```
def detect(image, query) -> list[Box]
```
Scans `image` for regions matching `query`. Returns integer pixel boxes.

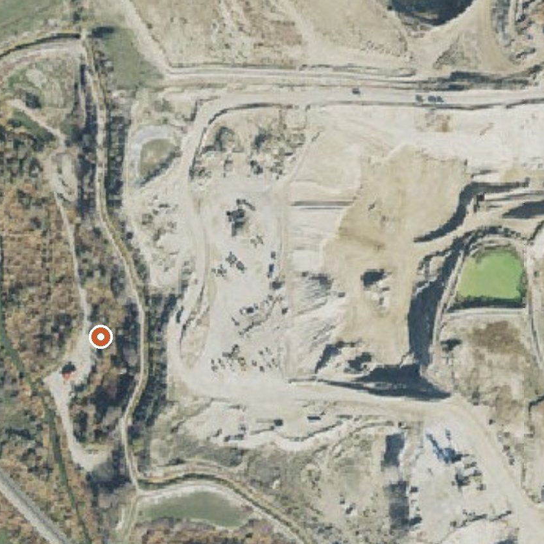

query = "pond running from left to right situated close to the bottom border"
[137,490,249,526]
